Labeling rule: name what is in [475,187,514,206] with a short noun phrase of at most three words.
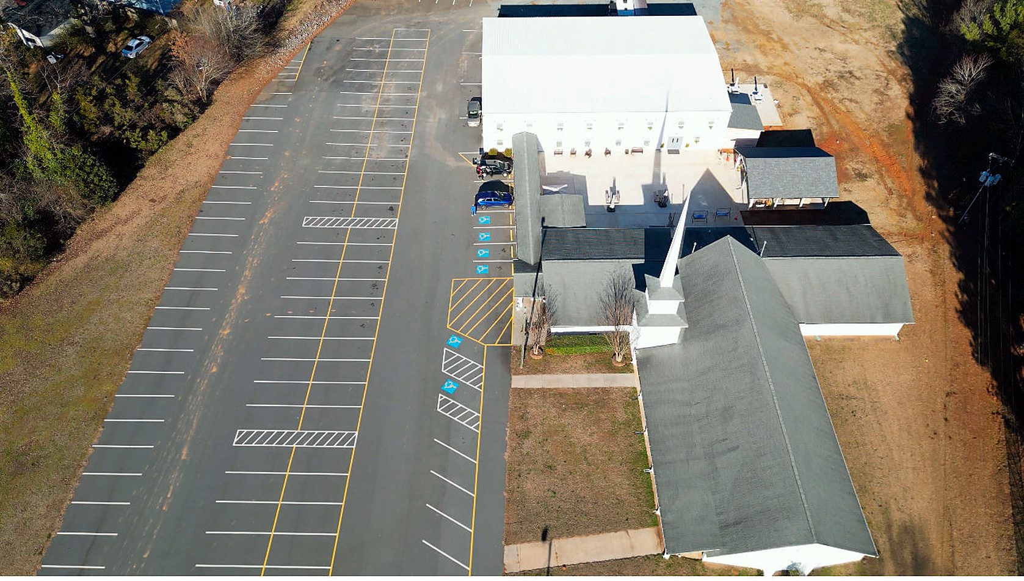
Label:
car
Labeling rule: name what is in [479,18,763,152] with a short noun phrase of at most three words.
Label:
building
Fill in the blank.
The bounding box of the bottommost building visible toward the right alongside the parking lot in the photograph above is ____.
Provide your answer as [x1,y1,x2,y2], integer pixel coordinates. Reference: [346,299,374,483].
[513,195,914,581]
